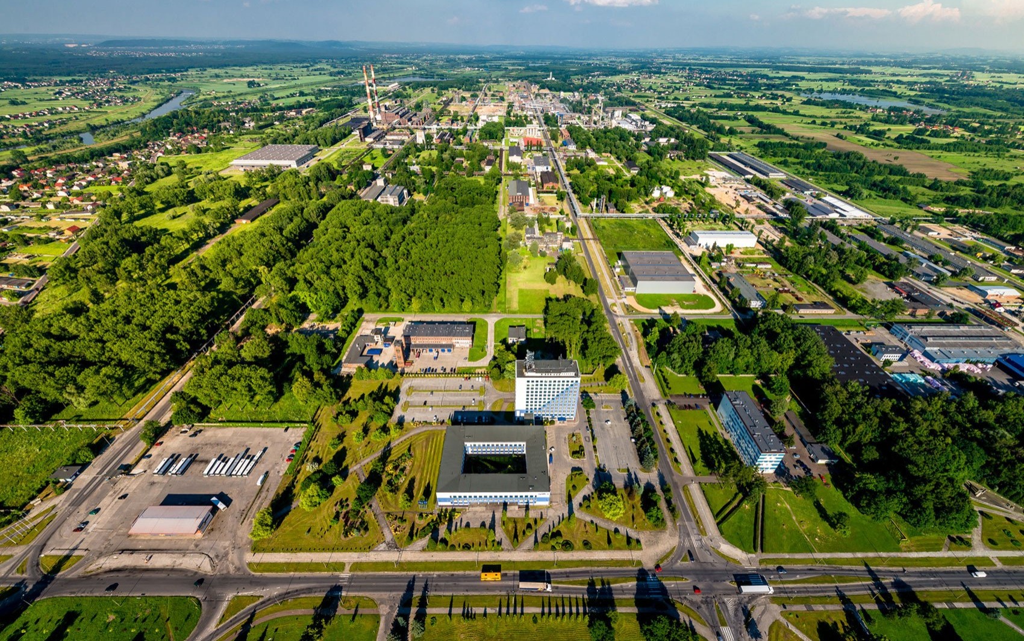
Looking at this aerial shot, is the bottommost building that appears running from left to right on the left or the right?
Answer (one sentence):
The bottommost building that appears running from left to right is on the left side of the image.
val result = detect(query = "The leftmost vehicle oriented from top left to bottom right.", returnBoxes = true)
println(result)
[211,496,226,512]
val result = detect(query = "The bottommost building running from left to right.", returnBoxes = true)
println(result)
[126,505,220,538]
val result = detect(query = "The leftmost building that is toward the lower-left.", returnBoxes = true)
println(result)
[49,465,85,481]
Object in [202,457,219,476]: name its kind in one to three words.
vehicle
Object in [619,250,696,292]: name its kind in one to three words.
building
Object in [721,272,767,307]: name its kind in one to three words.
shed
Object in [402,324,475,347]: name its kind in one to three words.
building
